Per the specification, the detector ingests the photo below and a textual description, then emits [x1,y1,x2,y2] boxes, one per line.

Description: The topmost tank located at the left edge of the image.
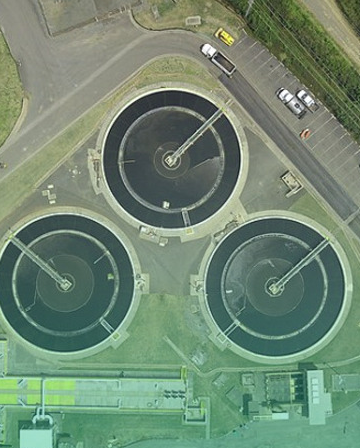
[0,206,144,362]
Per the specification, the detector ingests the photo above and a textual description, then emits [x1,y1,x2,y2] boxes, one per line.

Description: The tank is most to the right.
[198,210,352,365]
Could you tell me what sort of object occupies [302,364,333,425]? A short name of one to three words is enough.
building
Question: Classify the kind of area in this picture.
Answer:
industrial area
